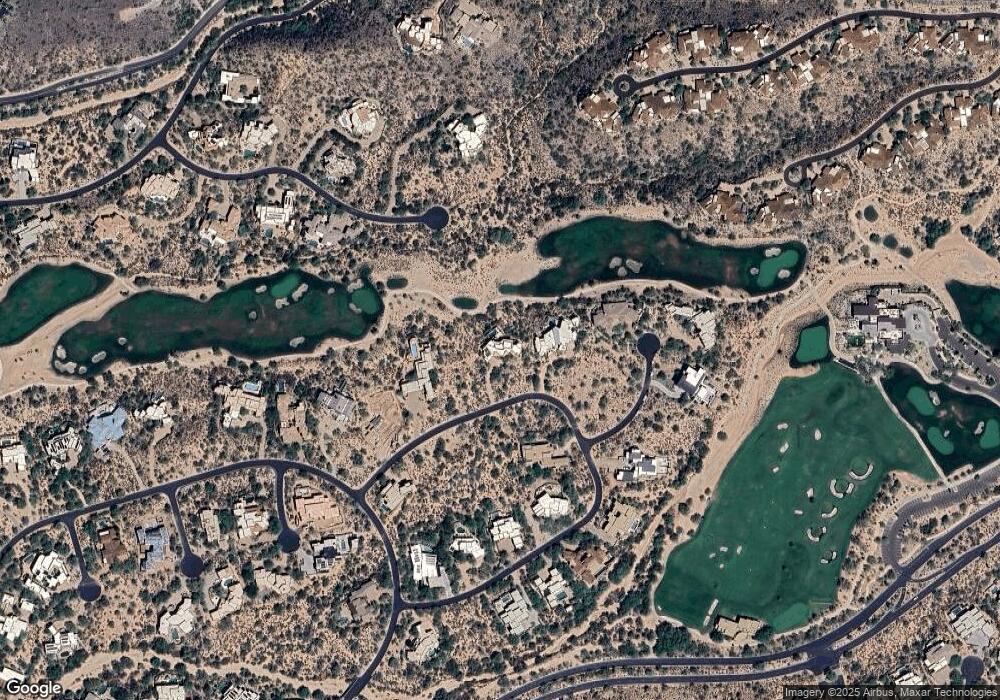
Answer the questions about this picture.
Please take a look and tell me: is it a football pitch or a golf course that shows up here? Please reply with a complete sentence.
Looking from above, you can make out a golf course.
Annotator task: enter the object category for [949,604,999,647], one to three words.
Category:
house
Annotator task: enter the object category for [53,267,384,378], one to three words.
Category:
golf course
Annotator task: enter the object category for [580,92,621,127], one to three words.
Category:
house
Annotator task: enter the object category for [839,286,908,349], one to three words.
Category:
building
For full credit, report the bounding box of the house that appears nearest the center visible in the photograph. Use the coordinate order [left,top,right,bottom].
[479,326,524,363]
